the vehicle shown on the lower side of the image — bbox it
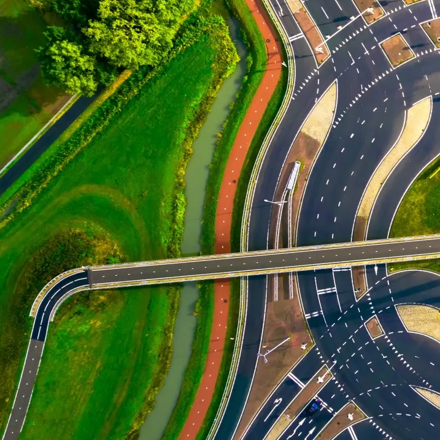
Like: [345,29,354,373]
[305,397,321,415]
